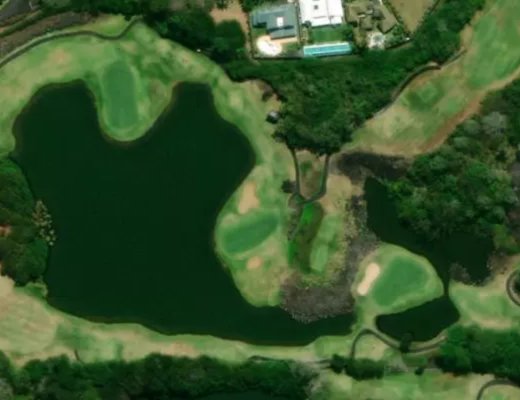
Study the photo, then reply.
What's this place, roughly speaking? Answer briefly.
golf course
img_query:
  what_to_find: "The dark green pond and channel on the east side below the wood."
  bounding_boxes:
[362,176,495,341]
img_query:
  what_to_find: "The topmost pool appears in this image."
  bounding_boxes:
[303,42,351,57]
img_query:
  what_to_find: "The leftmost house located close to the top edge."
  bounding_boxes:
[250,1,298,40]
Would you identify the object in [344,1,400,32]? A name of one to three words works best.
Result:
house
